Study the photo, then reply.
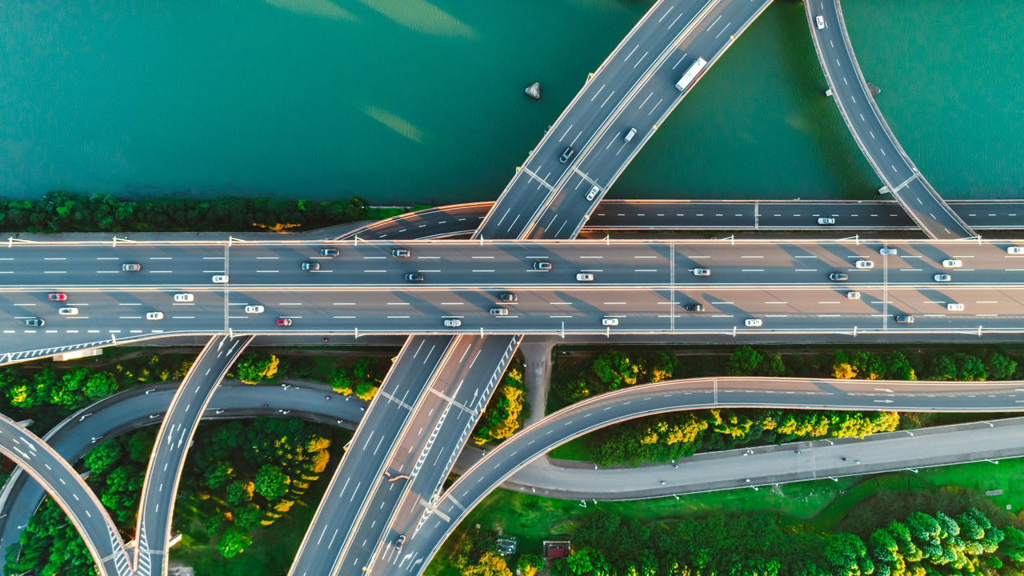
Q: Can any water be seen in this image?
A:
Yes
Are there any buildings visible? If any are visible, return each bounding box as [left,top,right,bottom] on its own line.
[550,546,564,558]
[496,536,517,554]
